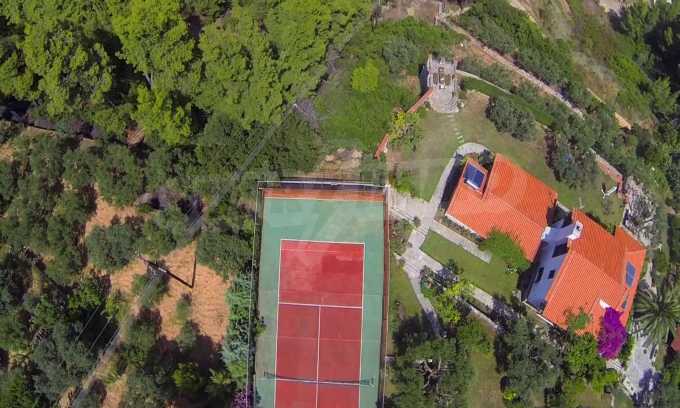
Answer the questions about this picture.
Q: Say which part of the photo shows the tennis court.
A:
bottom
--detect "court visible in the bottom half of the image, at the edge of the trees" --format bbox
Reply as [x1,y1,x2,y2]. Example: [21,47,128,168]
[252,189,388,408]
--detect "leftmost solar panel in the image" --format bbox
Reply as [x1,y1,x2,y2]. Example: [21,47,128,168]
[464,163,487,191]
